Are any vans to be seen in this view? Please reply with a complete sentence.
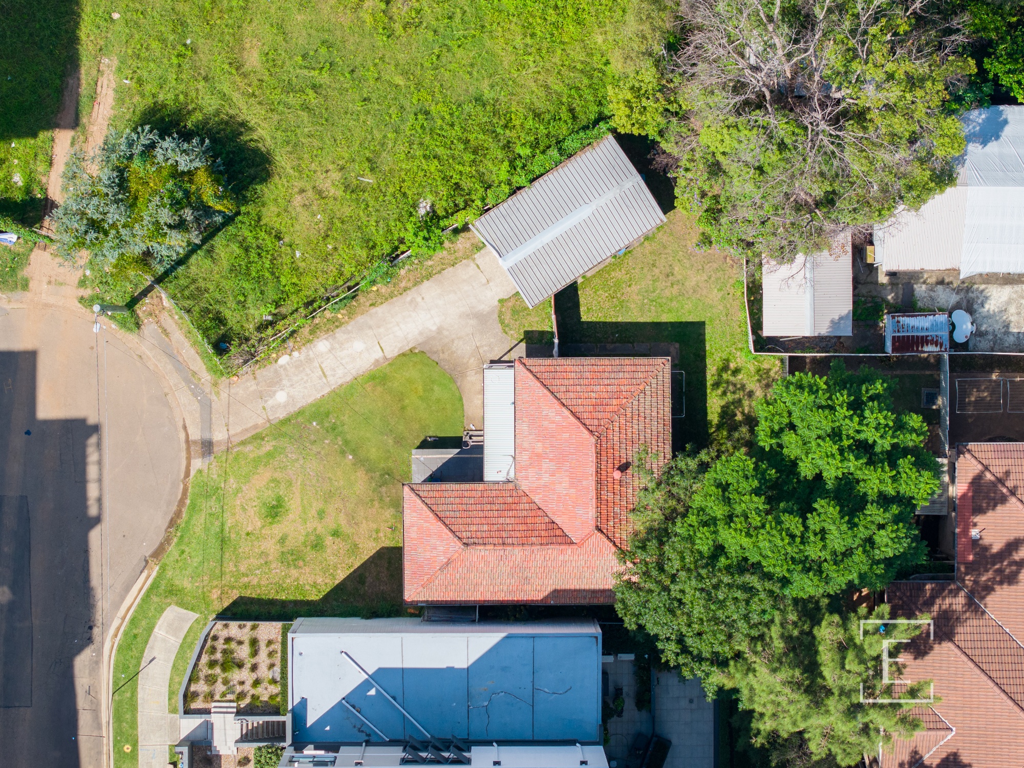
No, I can see no van in this picture.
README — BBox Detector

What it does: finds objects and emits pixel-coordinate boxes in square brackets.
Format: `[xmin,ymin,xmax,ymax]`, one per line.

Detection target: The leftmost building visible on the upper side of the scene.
[469,134,667,309]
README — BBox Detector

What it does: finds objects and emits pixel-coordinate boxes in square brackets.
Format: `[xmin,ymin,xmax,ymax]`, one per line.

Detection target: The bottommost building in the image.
[270,619,606,768]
